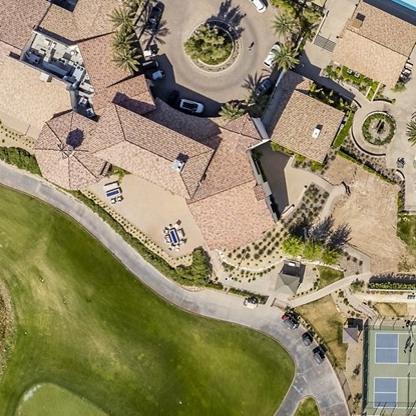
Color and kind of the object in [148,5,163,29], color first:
black car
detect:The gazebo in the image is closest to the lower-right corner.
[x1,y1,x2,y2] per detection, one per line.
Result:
[342,323,358,344]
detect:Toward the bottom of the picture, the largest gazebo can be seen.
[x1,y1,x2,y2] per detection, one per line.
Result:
[274,270,300,295]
